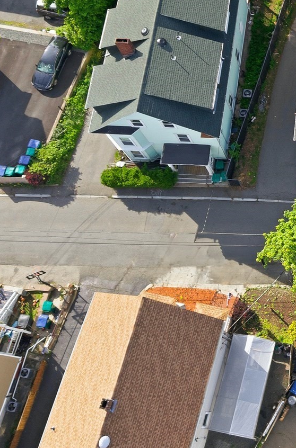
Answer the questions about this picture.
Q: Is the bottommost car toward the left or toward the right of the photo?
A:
left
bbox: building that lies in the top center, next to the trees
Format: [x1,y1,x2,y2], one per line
[84,0,265,191]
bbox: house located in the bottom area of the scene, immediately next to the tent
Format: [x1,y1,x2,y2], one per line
[37,292,236,448]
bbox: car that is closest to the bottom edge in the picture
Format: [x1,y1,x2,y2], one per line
[33,38,70,88]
